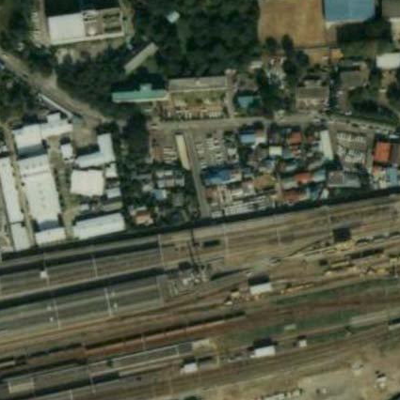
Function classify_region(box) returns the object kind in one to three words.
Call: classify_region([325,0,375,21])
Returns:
building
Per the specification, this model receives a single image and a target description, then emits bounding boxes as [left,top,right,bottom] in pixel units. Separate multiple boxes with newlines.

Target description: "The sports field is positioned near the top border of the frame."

[259,0,327,48]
